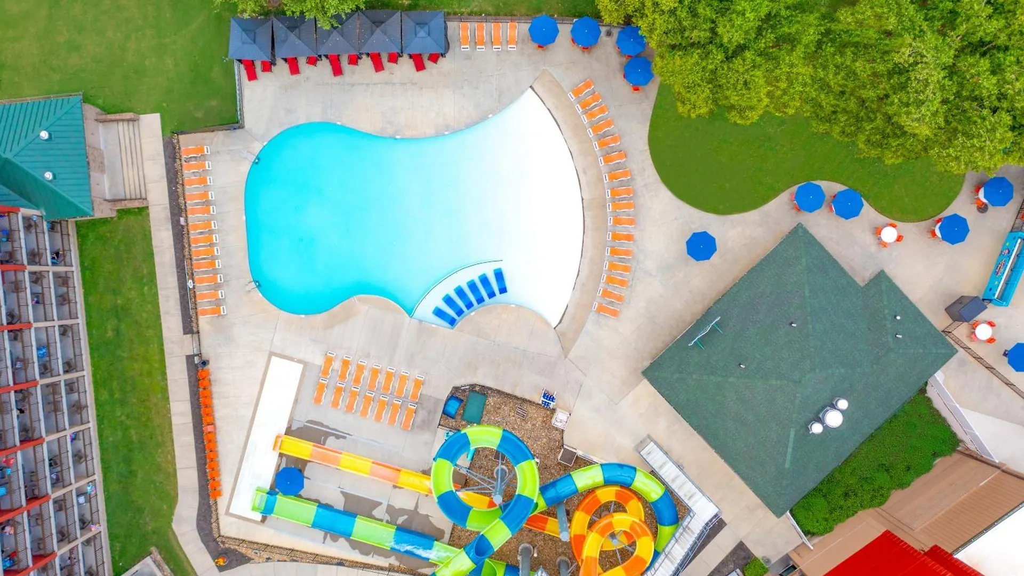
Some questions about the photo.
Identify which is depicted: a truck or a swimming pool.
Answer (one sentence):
Of the two, only a swimming pool appears.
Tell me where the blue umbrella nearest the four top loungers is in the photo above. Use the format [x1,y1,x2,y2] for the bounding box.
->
[529,18,559,48]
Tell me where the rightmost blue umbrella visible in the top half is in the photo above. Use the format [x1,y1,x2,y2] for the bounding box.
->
[974,177,1010,207]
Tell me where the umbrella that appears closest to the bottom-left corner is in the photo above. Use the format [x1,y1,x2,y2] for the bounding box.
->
[277,465,307,494]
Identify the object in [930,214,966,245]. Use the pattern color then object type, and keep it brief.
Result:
blue umbrella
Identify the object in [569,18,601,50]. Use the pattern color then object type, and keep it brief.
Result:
blue umbrella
